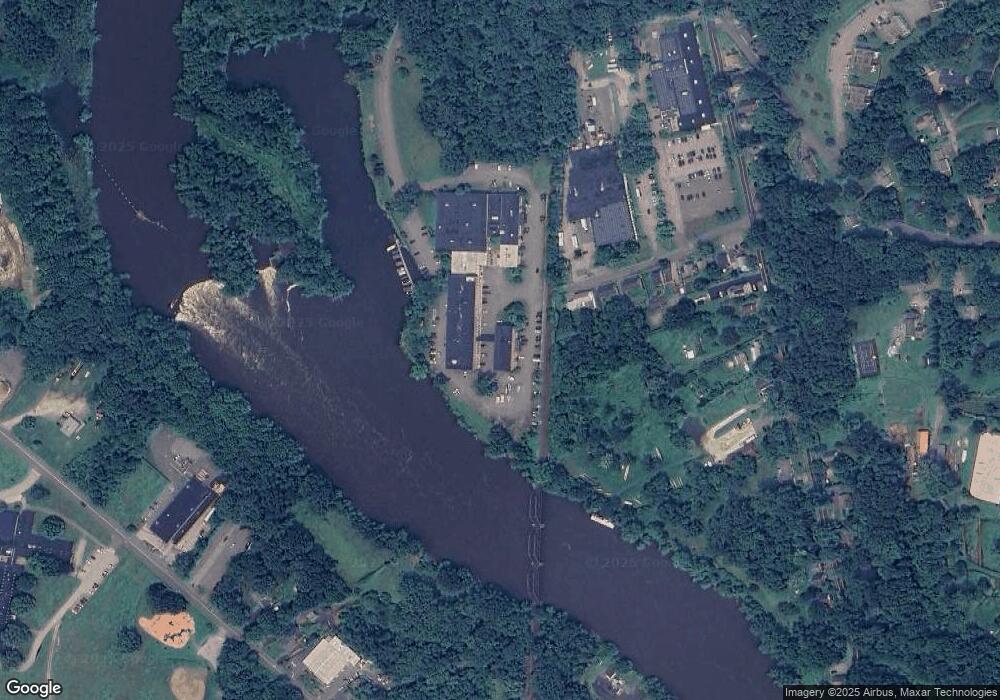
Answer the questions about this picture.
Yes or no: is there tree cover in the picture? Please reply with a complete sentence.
Yes, the picture does contain tree cover.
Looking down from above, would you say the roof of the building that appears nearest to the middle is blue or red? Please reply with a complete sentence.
In this view, the roof of the building that appears nearest to the middle is blue.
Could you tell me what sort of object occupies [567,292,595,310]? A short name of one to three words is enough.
house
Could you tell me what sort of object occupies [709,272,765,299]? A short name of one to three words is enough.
house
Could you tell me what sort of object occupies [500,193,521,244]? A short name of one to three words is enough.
building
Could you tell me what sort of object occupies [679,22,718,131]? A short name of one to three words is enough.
building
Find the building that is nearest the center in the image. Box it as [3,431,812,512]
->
[494,323,517,370]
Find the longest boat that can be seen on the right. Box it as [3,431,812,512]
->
[590,515,614,528]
